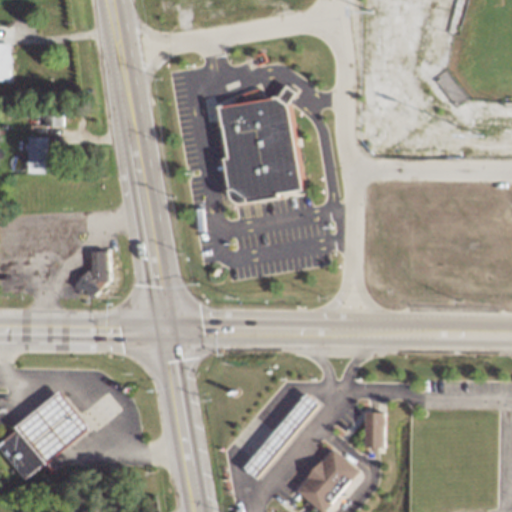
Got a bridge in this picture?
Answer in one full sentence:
No, I can't see a single bridge in this photo.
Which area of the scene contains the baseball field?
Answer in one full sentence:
The baseball field is in the top right part of the image.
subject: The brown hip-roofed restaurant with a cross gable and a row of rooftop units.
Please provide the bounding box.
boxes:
[298,452,360,512]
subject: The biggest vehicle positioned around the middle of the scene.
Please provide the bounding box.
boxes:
[196,203,210,241]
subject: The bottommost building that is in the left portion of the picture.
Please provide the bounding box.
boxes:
[0,430,48,480]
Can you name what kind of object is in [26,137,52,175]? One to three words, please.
house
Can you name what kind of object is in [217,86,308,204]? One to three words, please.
building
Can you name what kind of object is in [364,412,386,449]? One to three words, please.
house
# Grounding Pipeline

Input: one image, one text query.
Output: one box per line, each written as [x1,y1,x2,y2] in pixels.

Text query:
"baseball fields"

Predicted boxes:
[448,0,512,100]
